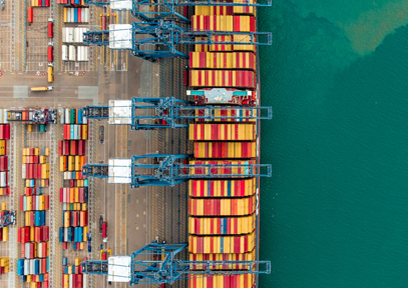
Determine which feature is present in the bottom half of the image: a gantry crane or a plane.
gantry crane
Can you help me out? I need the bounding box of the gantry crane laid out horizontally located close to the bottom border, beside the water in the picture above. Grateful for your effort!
[79,232,271,286]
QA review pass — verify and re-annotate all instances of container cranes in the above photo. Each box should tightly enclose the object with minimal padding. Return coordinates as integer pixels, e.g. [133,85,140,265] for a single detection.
[79,95,271,136]
[79,147,271,189]
[79,0,271,31]
[4,107,54,127]
[79,20,271,71]
[79,232,271,286]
